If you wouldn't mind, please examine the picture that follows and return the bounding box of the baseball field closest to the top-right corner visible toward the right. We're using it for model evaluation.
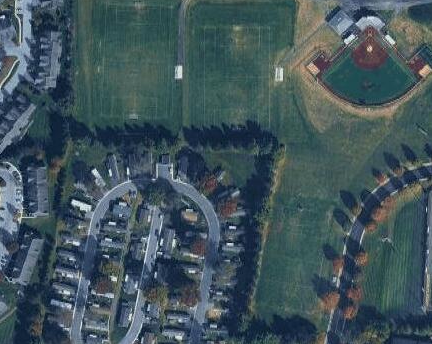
[318,23,421,107]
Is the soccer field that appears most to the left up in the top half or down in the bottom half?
top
